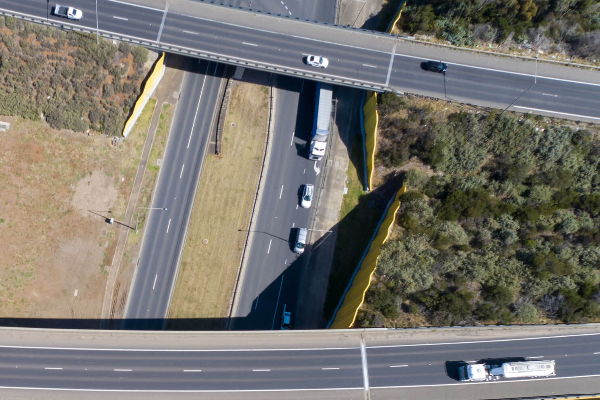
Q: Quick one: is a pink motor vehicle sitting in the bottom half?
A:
No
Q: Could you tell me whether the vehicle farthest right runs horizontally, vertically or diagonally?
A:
horizontally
